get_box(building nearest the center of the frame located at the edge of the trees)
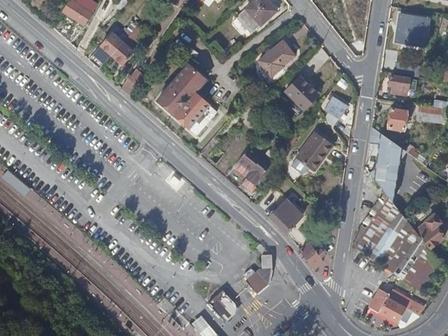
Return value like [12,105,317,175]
[235,154,266,193]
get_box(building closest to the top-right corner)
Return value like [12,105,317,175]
[394,12,431,50]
